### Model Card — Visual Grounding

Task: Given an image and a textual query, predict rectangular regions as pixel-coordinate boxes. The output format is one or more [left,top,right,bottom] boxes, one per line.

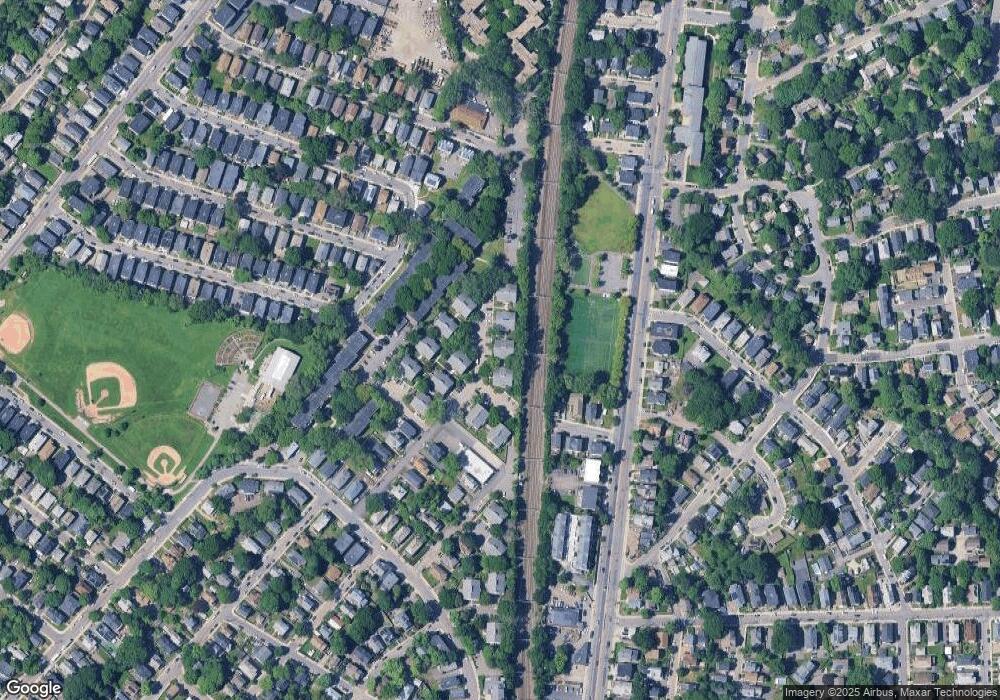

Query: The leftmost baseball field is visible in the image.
[0,312,33,354]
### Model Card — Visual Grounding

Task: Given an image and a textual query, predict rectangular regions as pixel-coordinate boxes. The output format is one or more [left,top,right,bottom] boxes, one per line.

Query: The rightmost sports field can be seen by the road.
[566,290,622,374]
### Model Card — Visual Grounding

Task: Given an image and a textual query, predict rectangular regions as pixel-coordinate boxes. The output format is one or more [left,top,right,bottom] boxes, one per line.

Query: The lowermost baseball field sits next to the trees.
[144,445,186,486]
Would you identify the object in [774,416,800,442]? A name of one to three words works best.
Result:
house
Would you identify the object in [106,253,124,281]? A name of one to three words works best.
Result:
house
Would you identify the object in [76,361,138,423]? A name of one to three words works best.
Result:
baseball field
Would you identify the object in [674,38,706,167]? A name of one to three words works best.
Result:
building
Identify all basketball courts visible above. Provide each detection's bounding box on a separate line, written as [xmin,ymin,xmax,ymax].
[189,381,222,421]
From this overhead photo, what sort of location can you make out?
residential area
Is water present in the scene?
No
